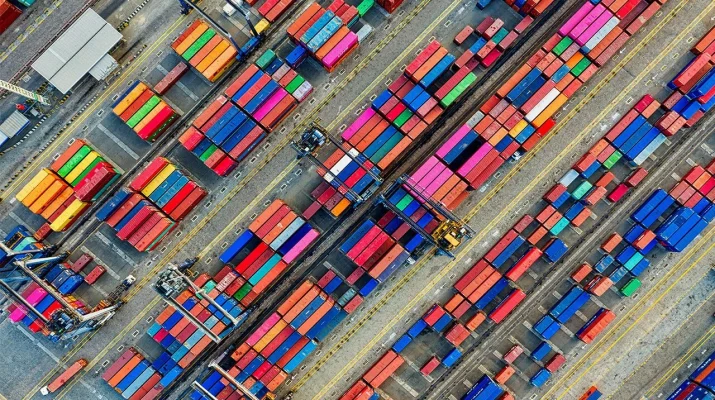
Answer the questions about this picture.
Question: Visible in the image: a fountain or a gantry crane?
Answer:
gantry crane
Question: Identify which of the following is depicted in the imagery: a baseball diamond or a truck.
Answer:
truck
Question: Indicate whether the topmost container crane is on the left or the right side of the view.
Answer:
left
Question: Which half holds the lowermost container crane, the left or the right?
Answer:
left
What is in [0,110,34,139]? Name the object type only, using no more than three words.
shed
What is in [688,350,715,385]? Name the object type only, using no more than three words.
shipping container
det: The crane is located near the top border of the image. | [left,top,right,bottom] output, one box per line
[181,0,270,64]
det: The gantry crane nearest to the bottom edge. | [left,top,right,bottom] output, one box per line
[189,339,260,400]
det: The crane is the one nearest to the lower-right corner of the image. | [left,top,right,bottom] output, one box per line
[375,174,475,258]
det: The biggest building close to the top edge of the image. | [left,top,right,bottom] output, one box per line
[32,6,126,98]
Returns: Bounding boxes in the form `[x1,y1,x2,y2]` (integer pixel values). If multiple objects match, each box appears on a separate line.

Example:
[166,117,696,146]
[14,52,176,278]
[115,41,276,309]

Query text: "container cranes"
[181,0,270,64]
[375,174,475,258]
[145,252,256,344]
[289,119,385,205]
[0,251,124,345]
[189,339,260,400]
